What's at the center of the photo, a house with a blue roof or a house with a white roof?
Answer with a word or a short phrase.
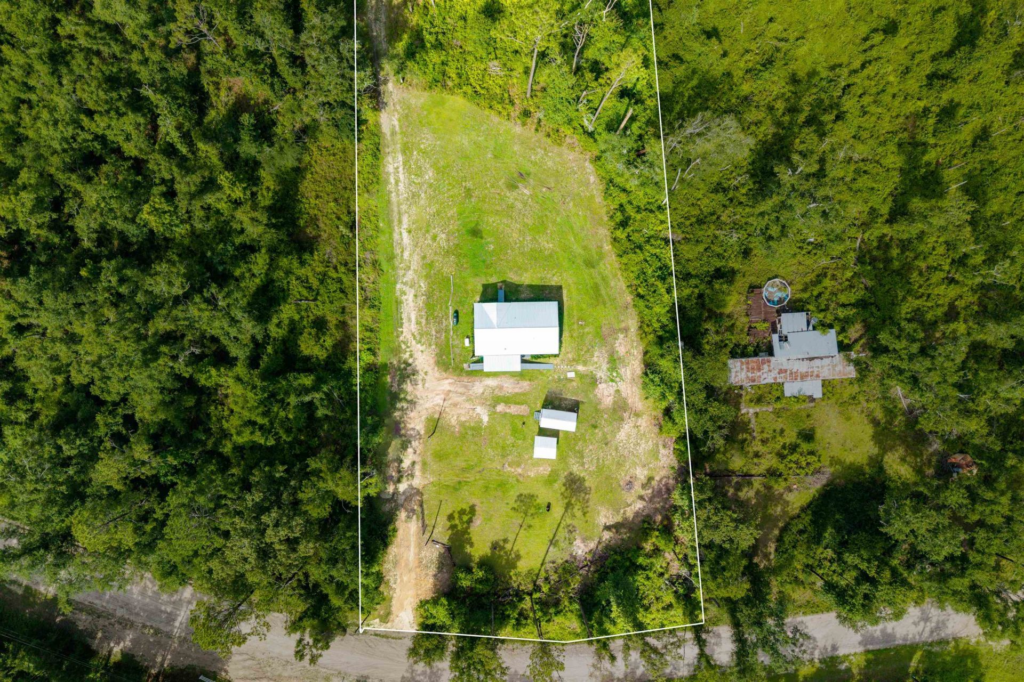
house with a white roof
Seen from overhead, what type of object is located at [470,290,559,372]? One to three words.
house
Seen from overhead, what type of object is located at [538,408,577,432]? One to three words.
shed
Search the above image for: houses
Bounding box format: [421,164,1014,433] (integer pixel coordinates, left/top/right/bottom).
[724,312,865,399]
[470,290,559,372]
